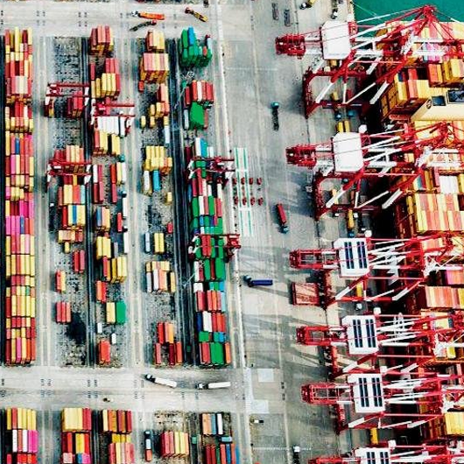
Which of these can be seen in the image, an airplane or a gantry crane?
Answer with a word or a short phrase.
gantry crane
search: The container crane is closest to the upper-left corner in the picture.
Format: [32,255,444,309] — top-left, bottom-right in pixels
[43,82,89,117]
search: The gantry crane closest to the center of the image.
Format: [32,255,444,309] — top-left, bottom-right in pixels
[186,232,239,265]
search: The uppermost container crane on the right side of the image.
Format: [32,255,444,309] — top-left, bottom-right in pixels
[275,3,464,106]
